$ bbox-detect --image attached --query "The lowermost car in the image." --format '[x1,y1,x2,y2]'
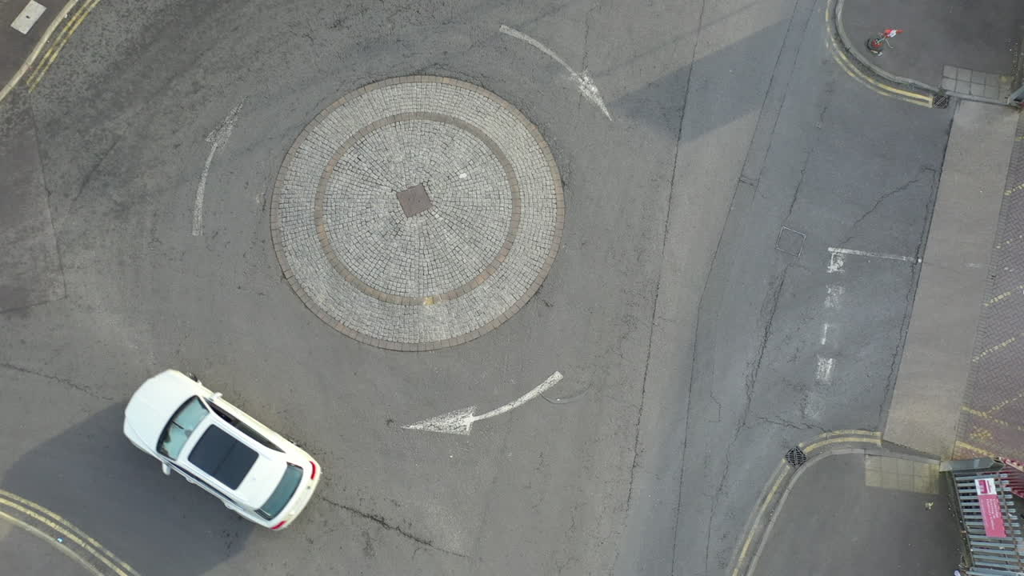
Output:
[124,370,325,532]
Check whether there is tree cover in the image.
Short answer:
No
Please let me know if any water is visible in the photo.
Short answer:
No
